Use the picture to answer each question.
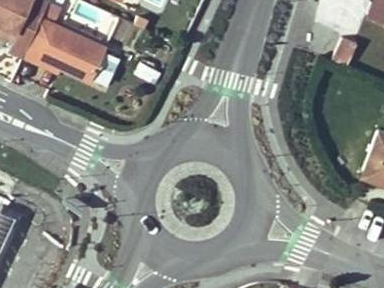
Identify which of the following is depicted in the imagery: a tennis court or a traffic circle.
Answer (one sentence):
Looking from above, you can make out a traffic circle.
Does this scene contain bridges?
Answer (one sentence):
No, I find no bridge anywhere in the image.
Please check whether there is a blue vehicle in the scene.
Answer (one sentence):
No, the picture doesn't show any blue vehicle.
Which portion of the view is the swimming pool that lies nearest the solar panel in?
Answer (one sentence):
You can find the swimming pool that lies nearest the solar panel in the top left area of the picture.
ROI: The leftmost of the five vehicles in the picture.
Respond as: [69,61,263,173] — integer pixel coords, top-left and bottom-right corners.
[20,62,34,82]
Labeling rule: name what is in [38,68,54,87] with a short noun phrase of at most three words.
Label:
car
